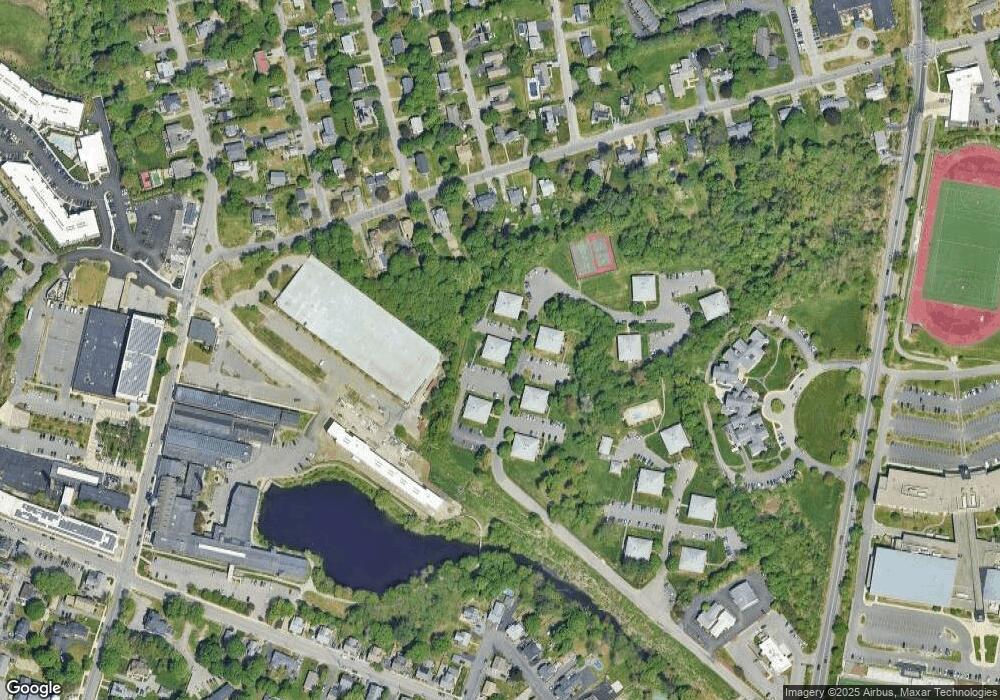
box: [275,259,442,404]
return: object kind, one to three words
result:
warehouse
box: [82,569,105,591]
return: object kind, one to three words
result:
house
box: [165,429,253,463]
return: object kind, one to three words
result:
building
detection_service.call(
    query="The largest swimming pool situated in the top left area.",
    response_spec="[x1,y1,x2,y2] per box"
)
[49,131,78,158]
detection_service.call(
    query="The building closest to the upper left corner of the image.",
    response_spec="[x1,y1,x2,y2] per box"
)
[0,62,86,134]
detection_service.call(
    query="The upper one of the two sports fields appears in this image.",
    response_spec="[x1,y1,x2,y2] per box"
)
[923,181,1000,310]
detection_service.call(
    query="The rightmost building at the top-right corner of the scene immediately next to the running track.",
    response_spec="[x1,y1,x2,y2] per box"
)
[946,66,982,123]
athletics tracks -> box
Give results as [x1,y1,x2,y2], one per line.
[913,144,1000,346]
